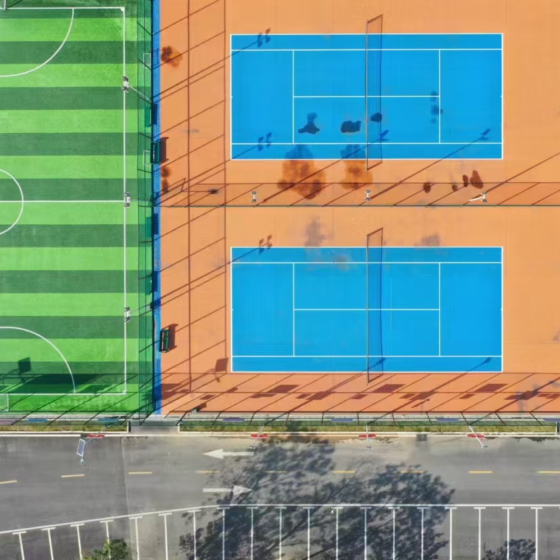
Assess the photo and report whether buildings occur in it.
No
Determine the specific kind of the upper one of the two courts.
tennis court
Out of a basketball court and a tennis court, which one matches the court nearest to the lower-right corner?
tennis court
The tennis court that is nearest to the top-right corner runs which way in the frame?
from side to side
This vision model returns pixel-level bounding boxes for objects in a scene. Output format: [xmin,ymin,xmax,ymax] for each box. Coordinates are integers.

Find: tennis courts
[230,247,503,373]
[230,33,503,160]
